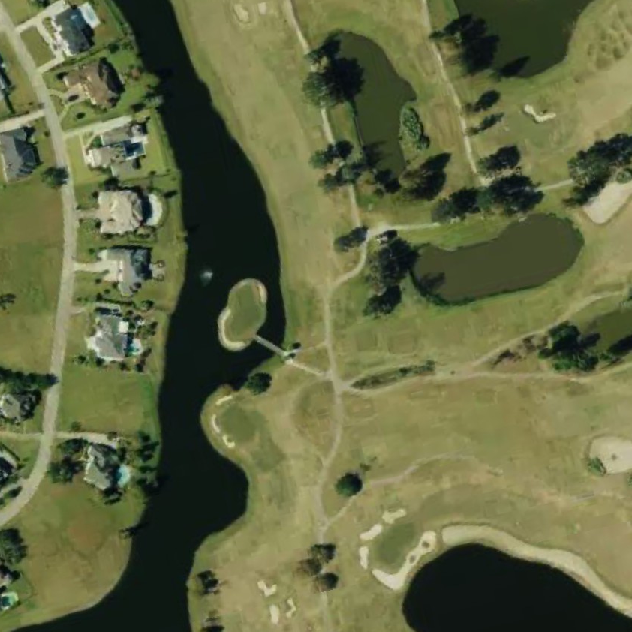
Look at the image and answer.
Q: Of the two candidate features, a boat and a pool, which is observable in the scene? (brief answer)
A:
pool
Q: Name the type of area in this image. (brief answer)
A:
golf course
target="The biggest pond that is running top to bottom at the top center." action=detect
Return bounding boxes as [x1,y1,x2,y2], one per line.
[337,32,416,179]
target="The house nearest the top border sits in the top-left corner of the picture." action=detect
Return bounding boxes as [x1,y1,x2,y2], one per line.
[50,9,91,56]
